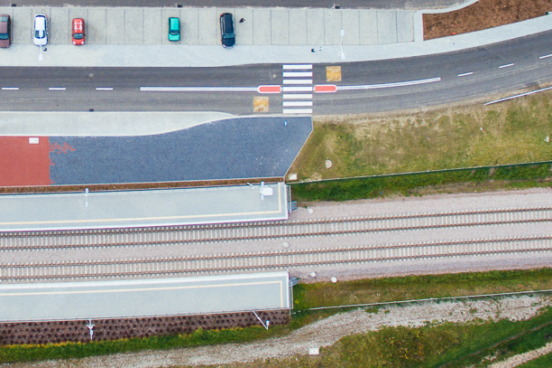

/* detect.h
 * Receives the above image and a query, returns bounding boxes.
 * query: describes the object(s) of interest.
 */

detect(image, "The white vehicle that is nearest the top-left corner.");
[32,14,49,46]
